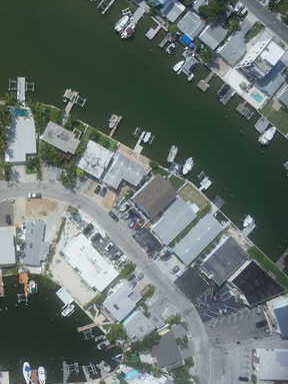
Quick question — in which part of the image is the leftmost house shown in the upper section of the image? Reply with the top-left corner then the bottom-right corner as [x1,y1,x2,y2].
[2,117,37,162]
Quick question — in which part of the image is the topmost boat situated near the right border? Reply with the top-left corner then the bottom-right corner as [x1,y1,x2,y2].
[260,128,274,145]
